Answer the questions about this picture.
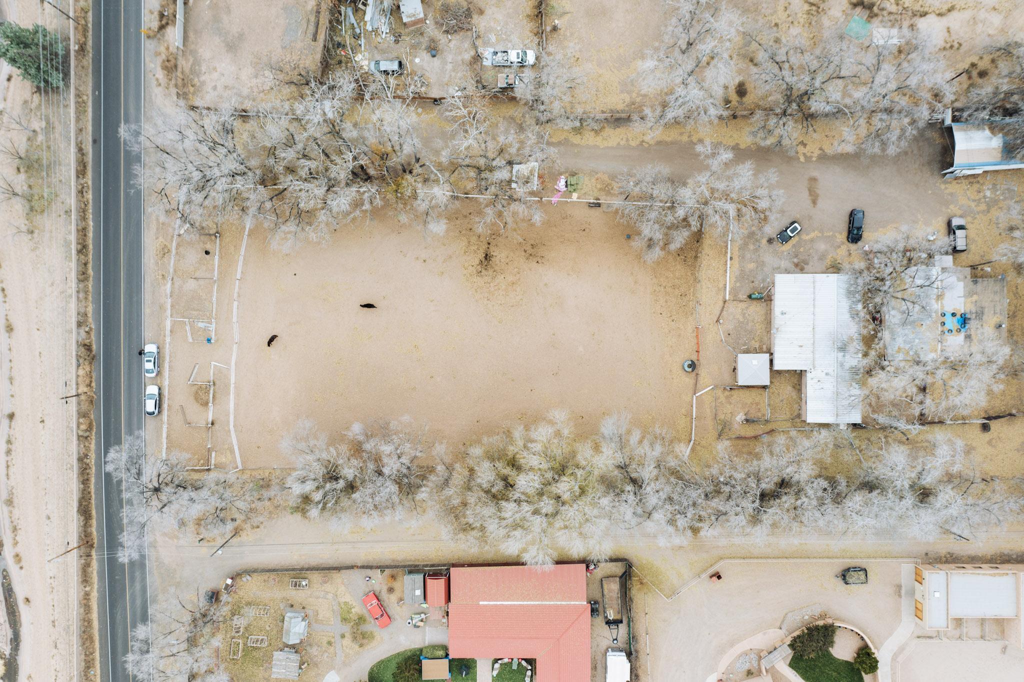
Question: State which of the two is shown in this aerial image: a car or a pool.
car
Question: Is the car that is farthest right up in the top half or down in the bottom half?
top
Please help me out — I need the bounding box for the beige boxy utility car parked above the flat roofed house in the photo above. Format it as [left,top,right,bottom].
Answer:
[946,216,968,253]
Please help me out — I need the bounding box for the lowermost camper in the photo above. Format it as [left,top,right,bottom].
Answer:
[605,645,630,682]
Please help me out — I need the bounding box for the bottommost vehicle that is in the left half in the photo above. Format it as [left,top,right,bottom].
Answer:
[362,589,391,631]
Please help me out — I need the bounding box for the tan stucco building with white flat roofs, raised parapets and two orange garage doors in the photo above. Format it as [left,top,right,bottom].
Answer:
[914,564,1024,650]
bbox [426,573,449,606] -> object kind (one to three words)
shed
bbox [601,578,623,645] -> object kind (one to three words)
trailer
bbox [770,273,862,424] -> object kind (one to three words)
barn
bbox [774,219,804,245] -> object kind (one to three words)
car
